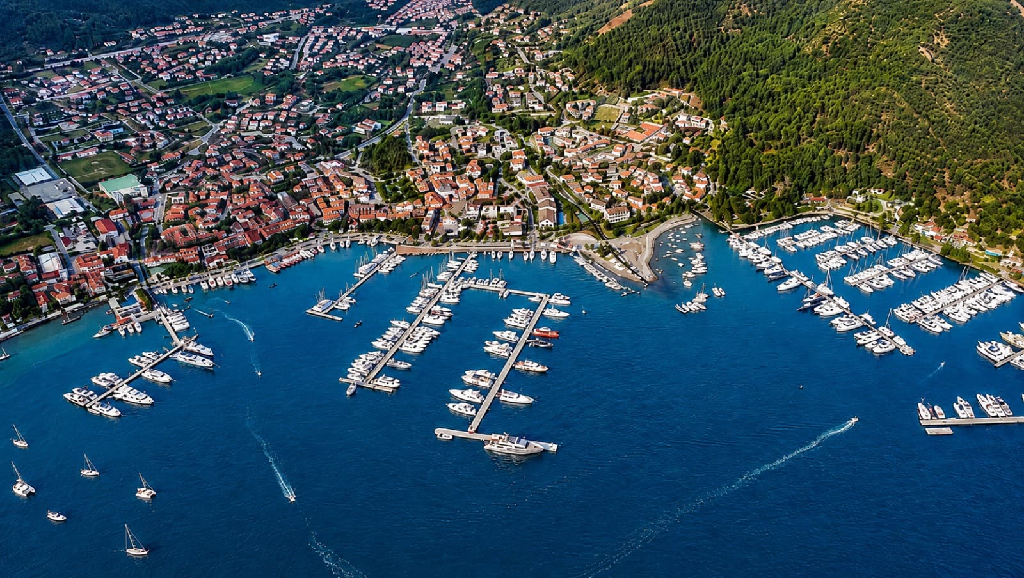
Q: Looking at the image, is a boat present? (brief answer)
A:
Yes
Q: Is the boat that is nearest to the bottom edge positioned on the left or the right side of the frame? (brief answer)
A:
left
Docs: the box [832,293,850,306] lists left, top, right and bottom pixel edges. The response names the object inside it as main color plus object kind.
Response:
white boat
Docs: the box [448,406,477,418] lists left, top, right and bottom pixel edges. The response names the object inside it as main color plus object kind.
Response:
white boat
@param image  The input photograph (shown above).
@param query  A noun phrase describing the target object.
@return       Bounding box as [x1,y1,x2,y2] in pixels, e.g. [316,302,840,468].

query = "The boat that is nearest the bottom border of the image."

[124,534,148,557]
